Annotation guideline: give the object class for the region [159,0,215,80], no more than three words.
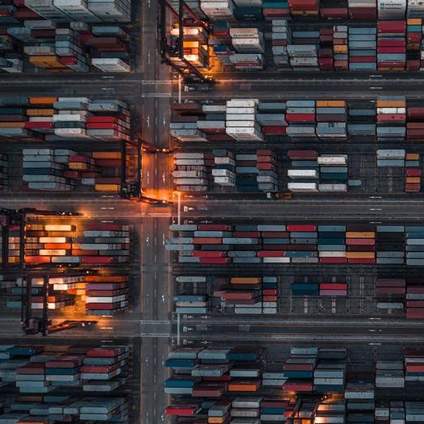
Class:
container crane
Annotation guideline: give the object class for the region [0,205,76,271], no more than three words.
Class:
container crane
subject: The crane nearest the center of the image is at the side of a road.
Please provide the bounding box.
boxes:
[113,135,175,201]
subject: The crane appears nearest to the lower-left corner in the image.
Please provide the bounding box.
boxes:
[26,270,98,333]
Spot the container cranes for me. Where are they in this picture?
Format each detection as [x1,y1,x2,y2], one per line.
[113,135,175,201]
[26,270,98,333]
[292,393,330,424]
[0,205,76,271]
[159,0,215,80]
